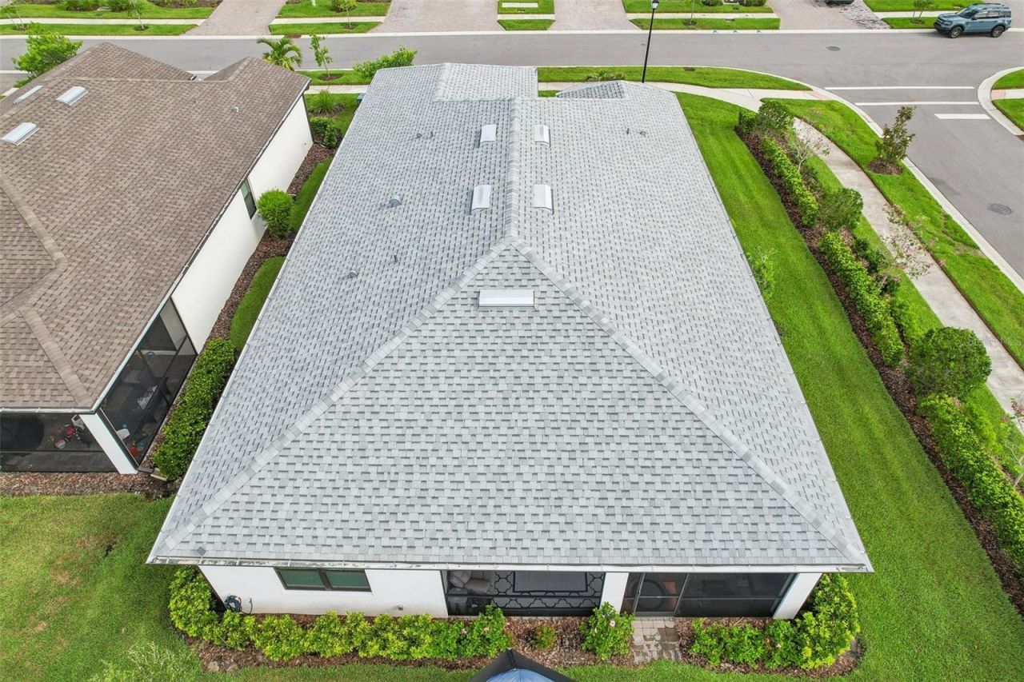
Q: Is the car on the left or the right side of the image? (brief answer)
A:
right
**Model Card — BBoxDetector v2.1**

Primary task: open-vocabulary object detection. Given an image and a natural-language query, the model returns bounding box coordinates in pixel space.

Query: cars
[931,0,1022,38]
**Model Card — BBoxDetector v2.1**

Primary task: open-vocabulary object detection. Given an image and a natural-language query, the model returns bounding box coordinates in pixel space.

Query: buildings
[0,42,327,473]
[145,62,875,619]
